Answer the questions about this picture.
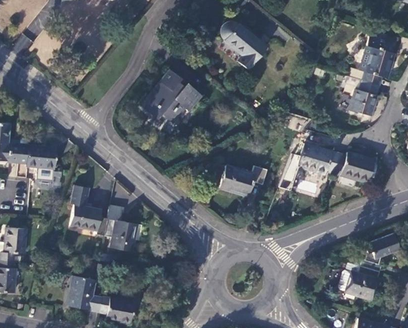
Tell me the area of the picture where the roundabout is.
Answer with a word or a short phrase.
bottom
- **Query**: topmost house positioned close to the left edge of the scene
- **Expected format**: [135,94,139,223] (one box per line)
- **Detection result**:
[0,121,58,180]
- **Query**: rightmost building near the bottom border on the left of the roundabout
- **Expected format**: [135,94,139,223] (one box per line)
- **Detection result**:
[107,294,138,325]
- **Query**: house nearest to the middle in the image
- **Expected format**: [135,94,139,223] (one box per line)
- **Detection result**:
[219,164,268,197]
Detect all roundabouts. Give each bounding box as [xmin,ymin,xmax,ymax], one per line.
[202,238,289,323]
